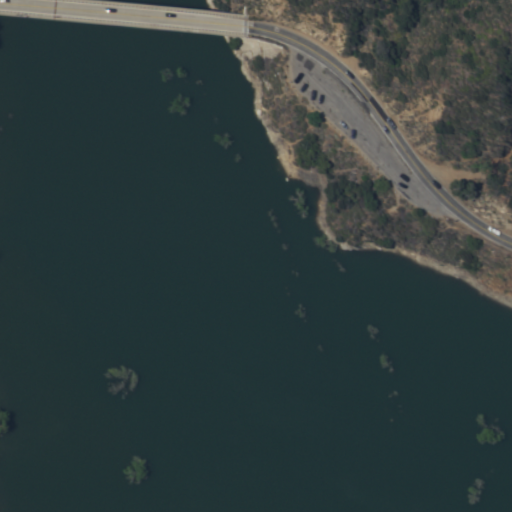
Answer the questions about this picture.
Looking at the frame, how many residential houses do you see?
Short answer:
none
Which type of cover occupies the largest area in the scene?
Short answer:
water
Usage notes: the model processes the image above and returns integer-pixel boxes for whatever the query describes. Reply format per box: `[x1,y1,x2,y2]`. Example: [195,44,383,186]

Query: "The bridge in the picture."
[0,0,250,38]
